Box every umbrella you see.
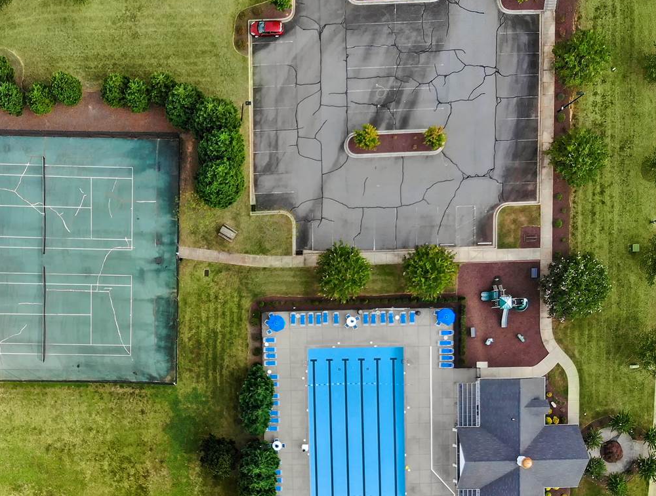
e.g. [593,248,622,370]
[437,307,455,326]
[268,315,285,332]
